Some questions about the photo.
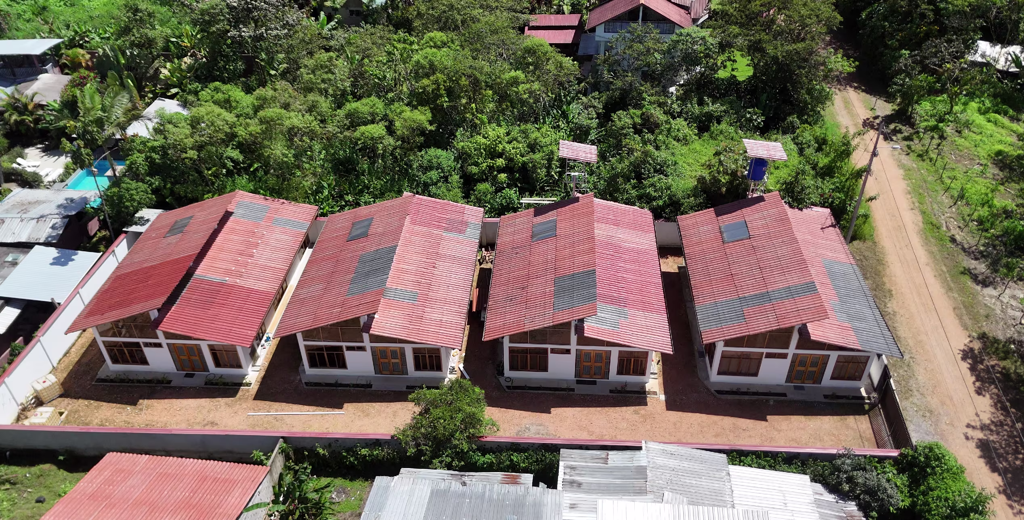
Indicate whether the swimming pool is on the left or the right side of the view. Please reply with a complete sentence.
You can find the swimming pool on the left side of the picture.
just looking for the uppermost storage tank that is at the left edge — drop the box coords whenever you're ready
[30,372,65,404]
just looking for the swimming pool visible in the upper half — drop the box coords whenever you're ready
[59,147,156,209]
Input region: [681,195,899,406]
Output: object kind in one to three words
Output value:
house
